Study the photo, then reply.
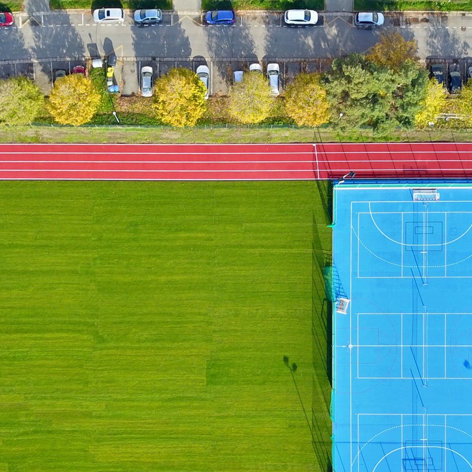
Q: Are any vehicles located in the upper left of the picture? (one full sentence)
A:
Yes, the scene does show a vehicle in the upper left of the picture.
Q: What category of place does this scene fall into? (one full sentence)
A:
The area seen from above is a sports ground.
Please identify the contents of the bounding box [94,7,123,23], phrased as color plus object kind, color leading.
white car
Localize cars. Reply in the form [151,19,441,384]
[140,66,154,97]
[195,66,210,99]
[430,64,446,92]
[134,9,162,24]
[448,64,463,94]
[266,64,282,96]
[248,64,263,92]
[206,10,234,25]
[231,70,244,95]
[466,67,472,85]
[0,11,13,26]
[354,11,384,28]
[94,7,123,23]
[285,8,318,25]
